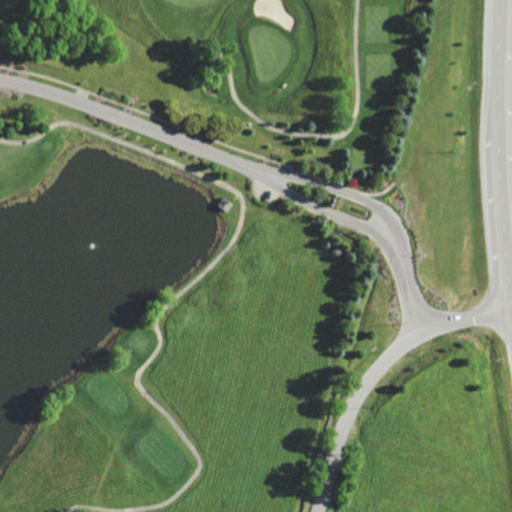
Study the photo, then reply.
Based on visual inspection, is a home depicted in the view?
No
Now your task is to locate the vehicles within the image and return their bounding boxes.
[260,192,270,202]
[450,316,462,320]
